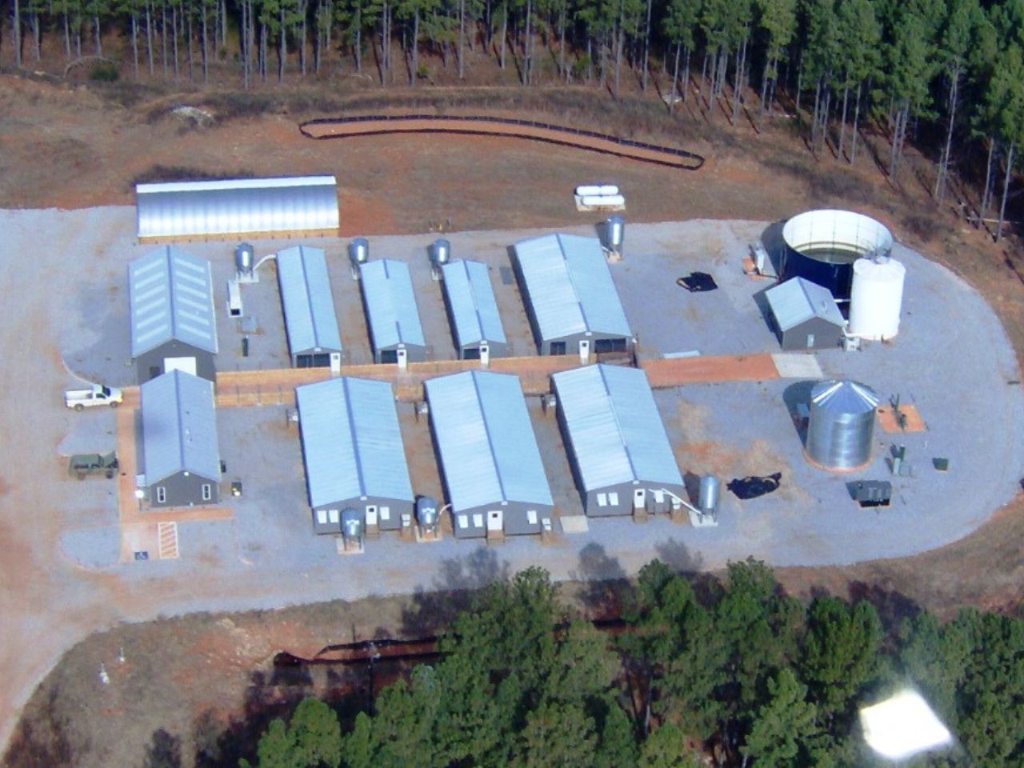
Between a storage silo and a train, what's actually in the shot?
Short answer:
storage silo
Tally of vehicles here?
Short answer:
2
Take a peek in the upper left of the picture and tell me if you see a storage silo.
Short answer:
No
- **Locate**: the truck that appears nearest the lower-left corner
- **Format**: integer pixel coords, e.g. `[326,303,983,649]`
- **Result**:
[67,458,120,486]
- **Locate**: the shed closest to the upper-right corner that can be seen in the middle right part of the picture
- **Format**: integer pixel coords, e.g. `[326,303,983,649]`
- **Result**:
[765,277,848,349]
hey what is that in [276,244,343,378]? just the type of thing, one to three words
building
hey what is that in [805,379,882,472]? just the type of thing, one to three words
silo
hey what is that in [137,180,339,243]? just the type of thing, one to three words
barn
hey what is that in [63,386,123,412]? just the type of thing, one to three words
truck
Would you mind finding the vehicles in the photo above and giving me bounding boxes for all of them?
[63,386,123,412]
[67,458,120,486]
